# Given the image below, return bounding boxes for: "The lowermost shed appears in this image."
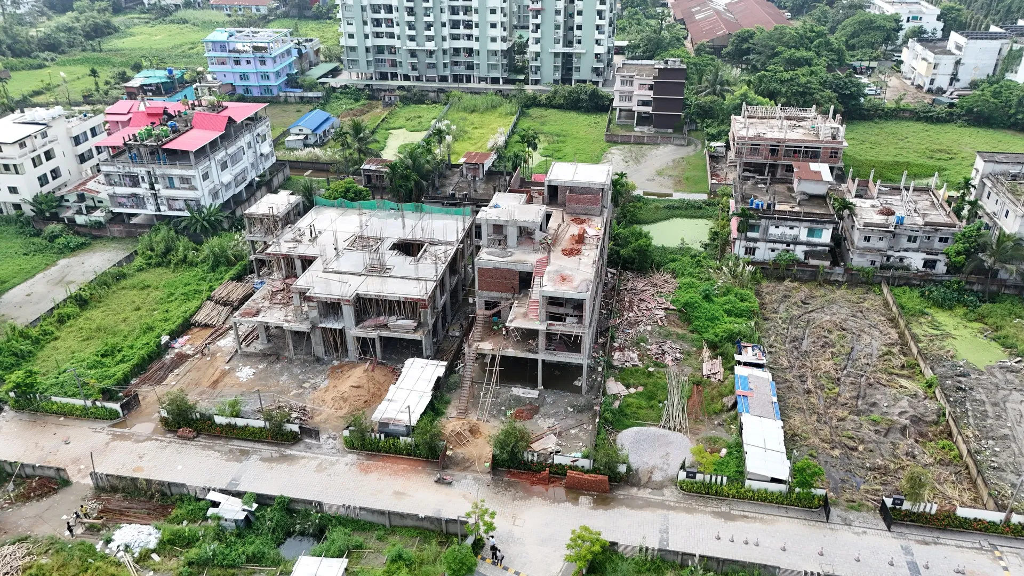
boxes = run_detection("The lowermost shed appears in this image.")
[290,548,348,576]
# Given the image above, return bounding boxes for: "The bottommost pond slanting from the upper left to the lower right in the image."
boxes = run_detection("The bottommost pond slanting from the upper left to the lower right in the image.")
[930,310,1005,363]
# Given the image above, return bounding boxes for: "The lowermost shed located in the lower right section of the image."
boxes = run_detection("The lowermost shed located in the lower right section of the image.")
[729,364,794,486]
